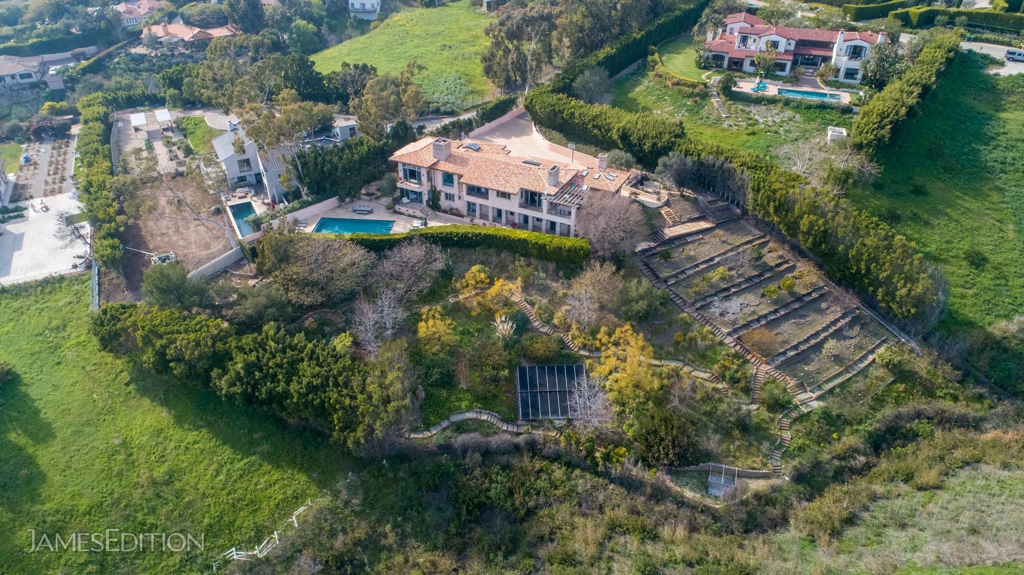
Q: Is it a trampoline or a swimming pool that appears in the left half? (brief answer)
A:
swimming pool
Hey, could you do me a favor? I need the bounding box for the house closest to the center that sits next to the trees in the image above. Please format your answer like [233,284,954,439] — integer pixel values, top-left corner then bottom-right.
[387,131,632,237]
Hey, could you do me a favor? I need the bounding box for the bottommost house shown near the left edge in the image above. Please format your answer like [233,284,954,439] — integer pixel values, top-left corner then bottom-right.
[0,164,31,208]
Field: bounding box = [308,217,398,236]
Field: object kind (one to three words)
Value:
swimming pool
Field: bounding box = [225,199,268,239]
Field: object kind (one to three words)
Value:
swimming pool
